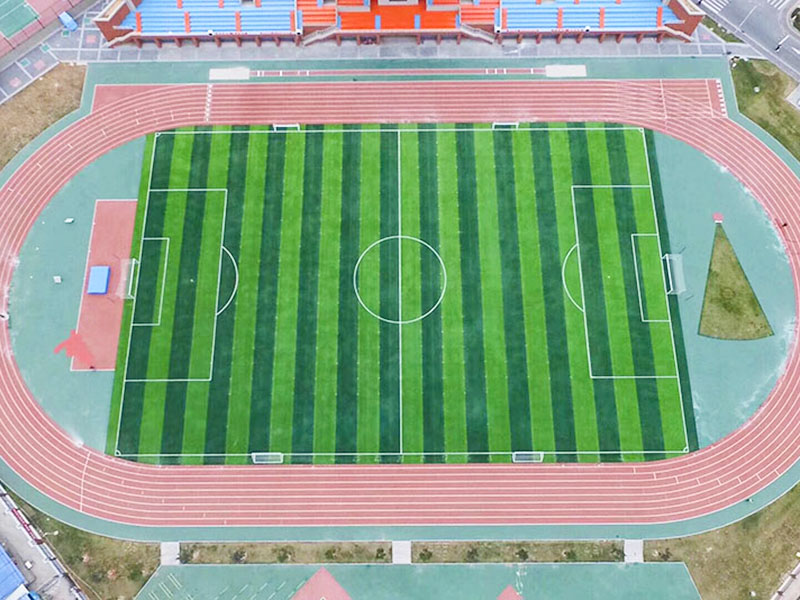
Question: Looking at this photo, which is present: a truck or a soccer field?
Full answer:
It is a soccer field that can be seen here.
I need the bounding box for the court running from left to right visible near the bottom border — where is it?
[136,562,703,600]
